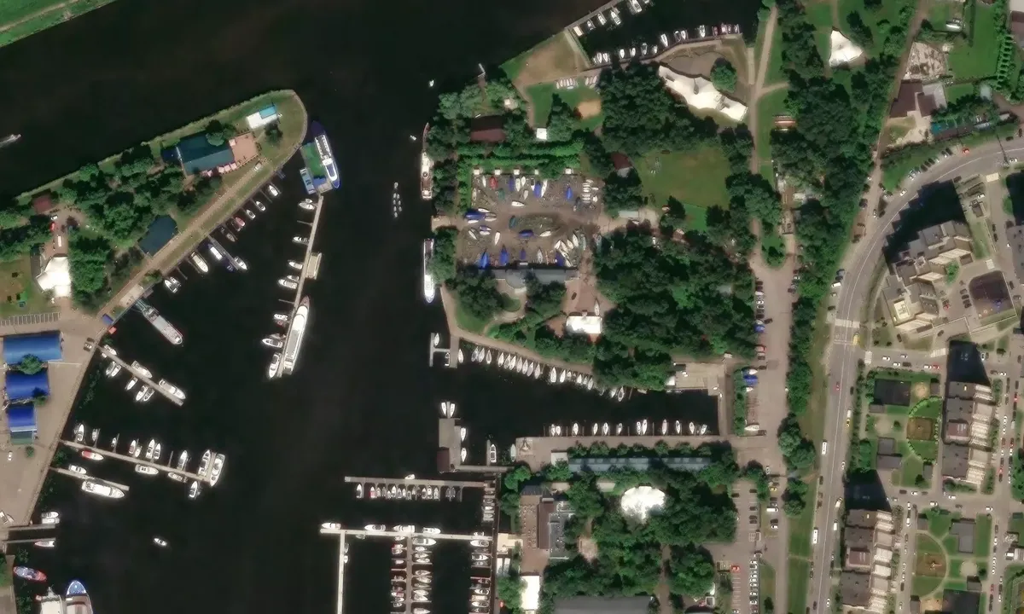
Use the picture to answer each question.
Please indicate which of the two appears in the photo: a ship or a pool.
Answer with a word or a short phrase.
ship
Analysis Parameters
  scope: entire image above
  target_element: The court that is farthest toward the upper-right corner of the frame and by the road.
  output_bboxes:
[970,271,1015,320]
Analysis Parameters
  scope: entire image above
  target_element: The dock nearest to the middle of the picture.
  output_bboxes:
[430,333,458,368]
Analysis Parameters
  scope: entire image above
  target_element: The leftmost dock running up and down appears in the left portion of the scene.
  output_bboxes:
[271,195,324,377]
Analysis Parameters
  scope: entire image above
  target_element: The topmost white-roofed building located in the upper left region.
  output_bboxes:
[247,104,278,129]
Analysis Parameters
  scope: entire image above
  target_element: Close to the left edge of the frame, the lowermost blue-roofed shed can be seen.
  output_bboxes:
[6,404,36,445]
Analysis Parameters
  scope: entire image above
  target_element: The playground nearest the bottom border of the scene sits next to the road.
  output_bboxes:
[916,554,946,577]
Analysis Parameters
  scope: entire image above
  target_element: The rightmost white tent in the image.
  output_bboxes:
[830,31,862,66]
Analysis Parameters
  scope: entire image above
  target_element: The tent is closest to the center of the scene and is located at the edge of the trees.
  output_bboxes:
[567,310,602,333]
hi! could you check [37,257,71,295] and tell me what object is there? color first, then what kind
white tent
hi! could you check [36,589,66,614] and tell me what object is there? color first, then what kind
white ship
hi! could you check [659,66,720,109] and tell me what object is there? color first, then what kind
white tent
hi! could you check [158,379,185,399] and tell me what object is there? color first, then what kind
white boat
